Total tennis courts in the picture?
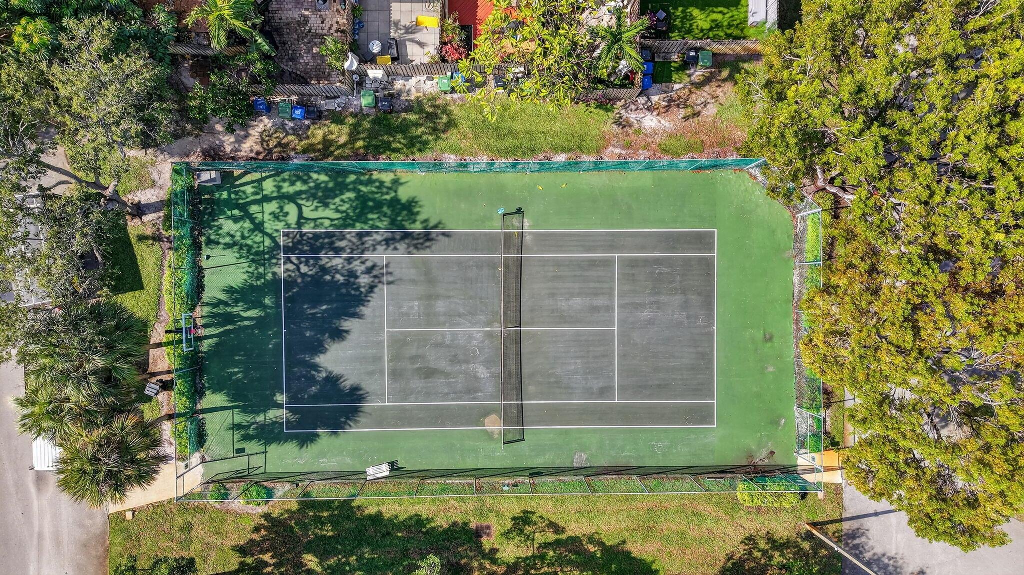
one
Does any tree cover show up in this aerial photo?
Yes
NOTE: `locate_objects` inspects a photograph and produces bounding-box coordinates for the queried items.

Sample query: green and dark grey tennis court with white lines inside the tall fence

[206,172,793,475]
